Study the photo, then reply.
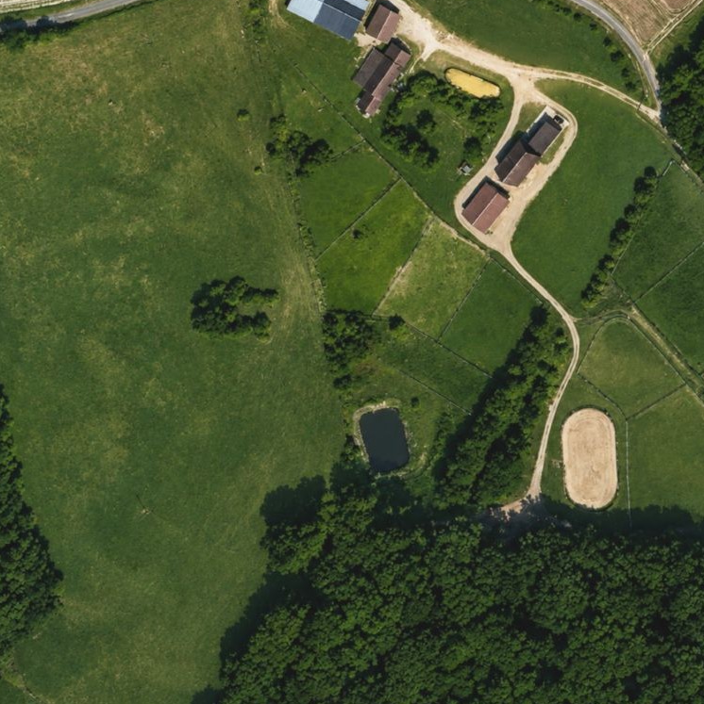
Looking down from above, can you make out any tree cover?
Yes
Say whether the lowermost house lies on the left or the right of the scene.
right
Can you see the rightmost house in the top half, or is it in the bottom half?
top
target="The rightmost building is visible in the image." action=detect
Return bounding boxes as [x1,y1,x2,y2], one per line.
[494,122,561,186]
